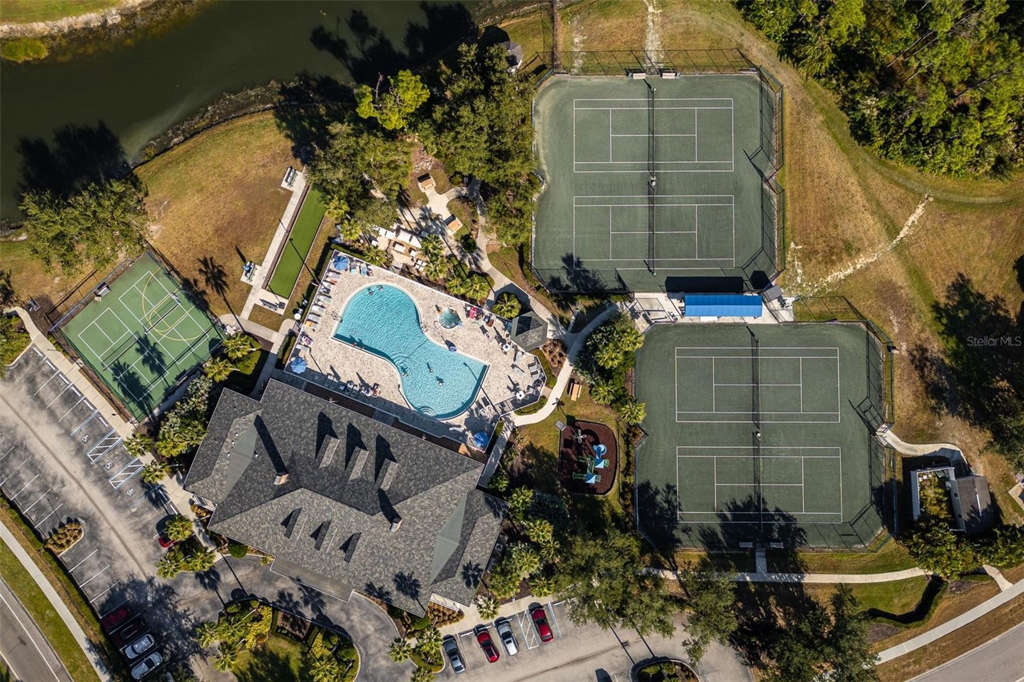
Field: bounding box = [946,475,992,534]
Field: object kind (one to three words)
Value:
shed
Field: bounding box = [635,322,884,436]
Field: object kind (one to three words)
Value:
tennis court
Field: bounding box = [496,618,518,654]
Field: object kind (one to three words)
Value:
car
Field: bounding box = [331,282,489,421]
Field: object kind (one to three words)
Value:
swimming pool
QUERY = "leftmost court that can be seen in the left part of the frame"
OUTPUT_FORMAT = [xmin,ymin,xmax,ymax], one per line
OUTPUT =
[61,251,222,422]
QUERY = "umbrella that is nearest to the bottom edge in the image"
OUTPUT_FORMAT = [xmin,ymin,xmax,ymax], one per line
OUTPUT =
[472,430,490,448]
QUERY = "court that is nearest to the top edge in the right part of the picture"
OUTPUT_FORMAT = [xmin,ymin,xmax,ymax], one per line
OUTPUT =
[533,72,776,184]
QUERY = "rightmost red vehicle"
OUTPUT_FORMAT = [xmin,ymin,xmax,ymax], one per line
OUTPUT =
[531,605,552,641]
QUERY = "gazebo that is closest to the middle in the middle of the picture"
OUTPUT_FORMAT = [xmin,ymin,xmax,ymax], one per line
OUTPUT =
[510,311,548,351]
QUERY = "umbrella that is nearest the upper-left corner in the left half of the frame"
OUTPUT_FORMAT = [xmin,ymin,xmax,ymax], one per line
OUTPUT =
[332,254,350,271]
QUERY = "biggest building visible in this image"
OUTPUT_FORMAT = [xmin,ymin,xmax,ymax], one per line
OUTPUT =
[182,378,510,618]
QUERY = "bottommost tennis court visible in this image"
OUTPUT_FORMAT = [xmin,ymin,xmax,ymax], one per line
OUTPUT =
[636,435,888,550]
